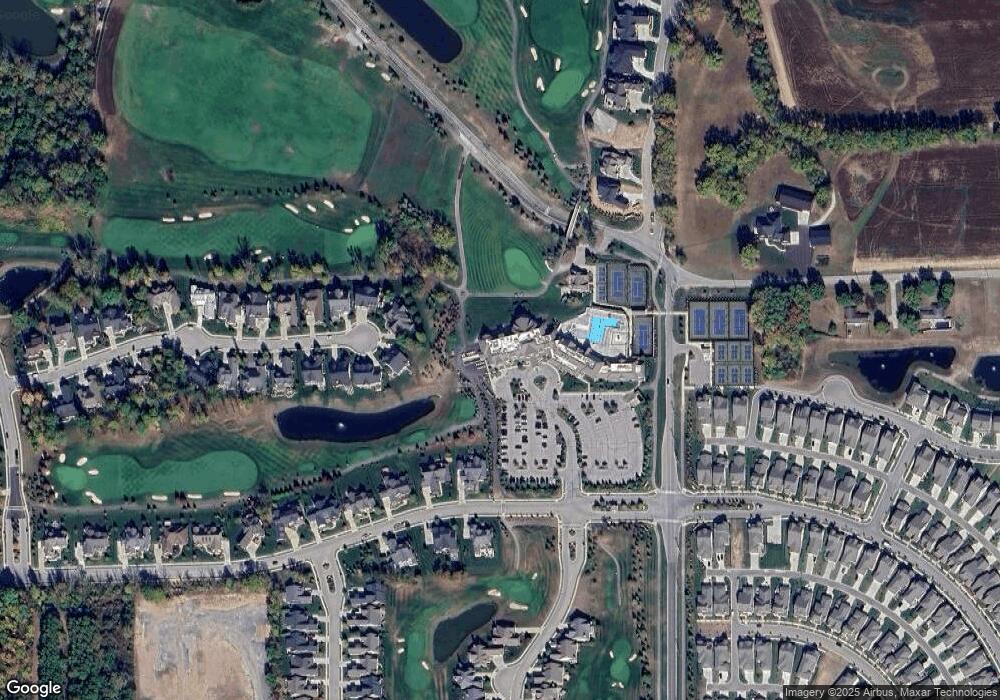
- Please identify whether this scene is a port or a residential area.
residential area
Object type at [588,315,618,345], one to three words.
swimming pool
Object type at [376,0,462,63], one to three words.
pond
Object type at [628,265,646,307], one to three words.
tennis court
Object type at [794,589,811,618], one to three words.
house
